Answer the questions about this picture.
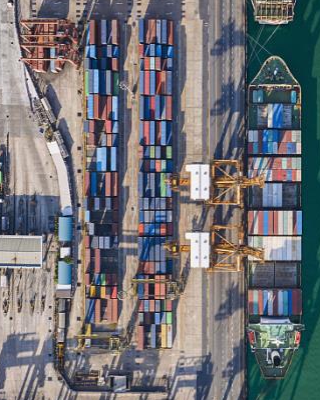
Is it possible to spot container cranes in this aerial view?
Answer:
Yes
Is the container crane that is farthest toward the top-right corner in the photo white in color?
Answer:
Yes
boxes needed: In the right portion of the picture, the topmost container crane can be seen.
[163,159,266,209]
